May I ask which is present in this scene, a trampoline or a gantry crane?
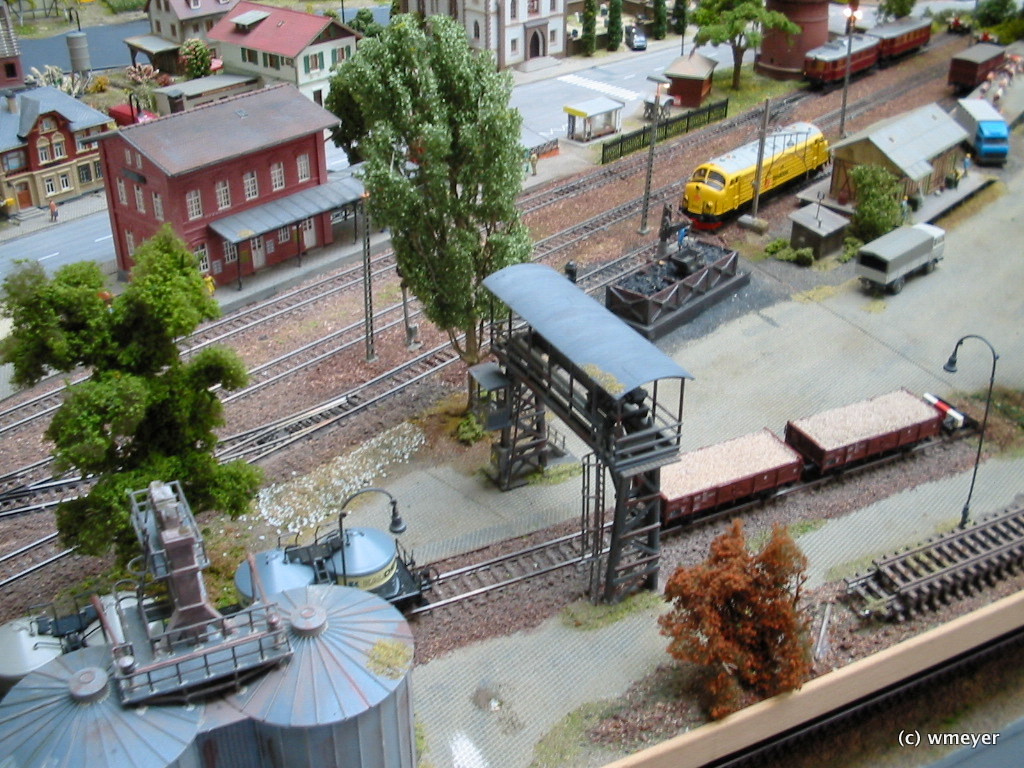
gantry crane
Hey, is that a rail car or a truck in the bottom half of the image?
rail car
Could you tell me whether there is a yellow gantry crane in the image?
No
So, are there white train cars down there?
Yes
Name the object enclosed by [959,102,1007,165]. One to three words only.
truck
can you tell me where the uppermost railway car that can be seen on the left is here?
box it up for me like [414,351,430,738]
[224,518,426,625]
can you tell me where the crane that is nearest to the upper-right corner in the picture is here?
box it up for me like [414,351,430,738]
[641,197,700,259]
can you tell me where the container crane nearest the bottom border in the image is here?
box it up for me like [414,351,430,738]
[465,258,696,606]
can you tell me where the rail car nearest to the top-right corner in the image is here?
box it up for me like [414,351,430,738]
[948,45,1004,88]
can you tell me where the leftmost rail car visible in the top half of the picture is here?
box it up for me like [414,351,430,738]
[682,135,827,233]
